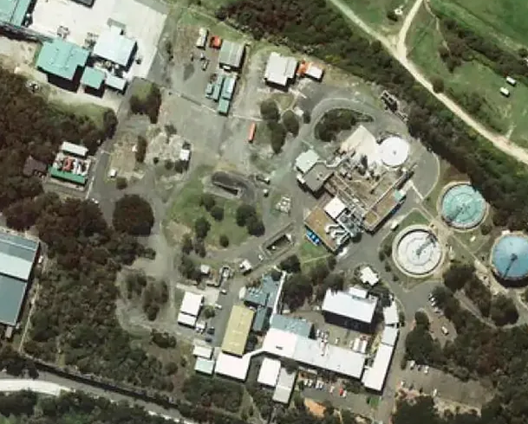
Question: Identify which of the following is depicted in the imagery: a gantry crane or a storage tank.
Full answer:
Of the two, only a storage tank appears.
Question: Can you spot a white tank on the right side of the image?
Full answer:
Yes, the scene does show a white tank on the right side of the image.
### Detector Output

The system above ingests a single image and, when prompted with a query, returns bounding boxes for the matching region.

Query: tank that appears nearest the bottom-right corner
[488,230,528,282]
